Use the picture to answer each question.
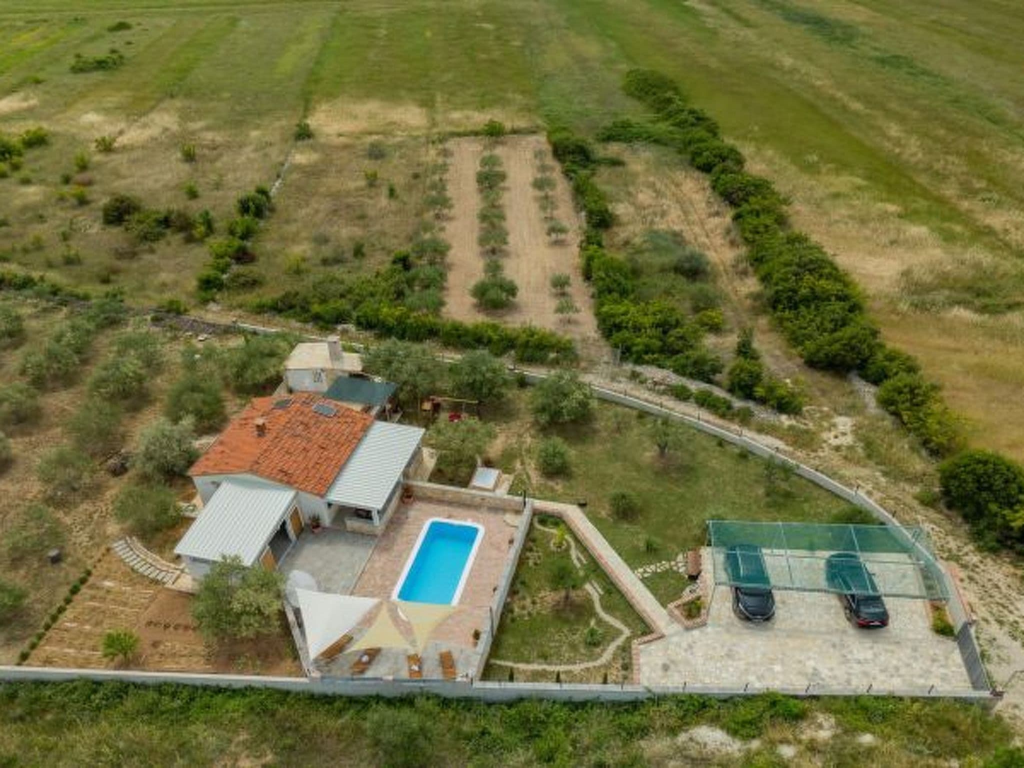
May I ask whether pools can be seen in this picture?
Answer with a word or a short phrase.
Yes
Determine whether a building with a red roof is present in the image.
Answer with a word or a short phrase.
Yes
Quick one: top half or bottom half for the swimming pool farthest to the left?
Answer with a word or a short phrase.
bottom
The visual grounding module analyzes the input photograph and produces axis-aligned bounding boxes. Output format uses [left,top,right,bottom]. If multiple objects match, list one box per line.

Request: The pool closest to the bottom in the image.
[392,517,479,609]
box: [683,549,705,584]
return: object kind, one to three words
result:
building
